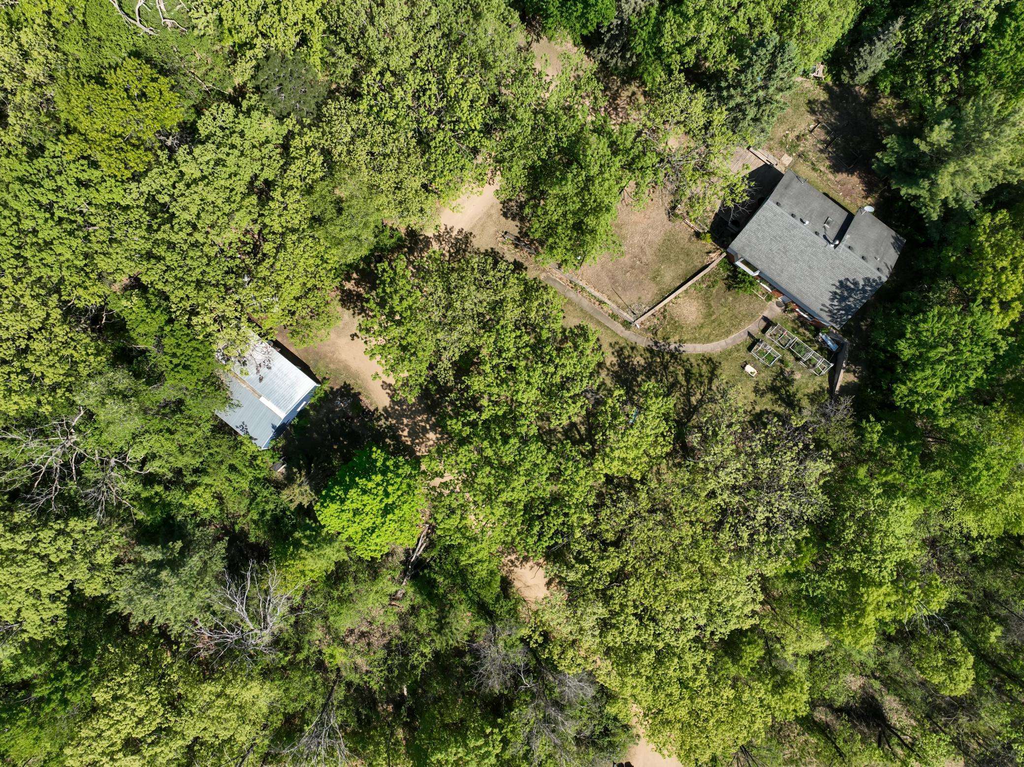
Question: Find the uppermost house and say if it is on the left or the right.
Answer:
right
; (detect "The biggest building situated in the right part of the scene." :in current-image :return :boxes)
[721,167,910,334]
